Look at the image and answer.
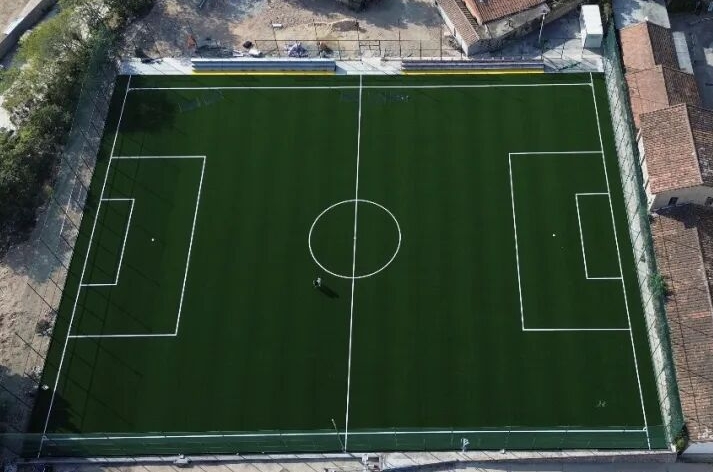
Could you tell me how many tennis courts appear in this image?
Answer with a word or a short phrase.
0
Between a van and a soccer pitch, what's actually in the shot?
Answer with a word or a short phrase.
soccer pitch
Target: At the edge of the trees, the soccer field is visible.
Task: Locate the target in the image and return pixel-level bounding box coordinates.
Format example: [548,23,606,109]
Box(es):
[26,71,670,459]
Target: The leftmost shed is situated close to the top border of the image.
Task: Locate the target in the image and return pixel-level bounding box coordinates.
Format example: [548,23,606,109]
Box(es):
[432,0,483,54]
